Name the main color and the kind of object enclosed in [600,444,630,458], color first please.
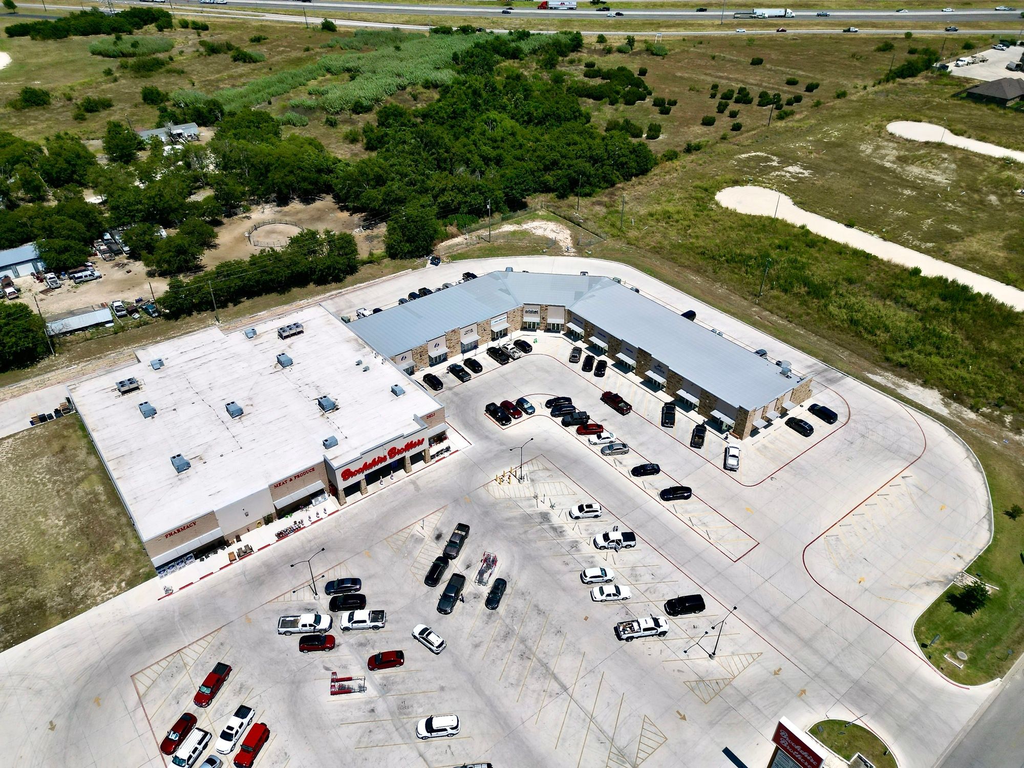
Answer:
gray car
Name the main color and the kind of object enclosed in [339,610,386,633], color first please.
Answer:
white truck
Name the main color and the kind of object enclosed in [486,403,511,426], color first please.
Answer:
black truck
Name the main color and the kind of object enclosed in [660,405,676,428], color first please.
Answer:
black vehicle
